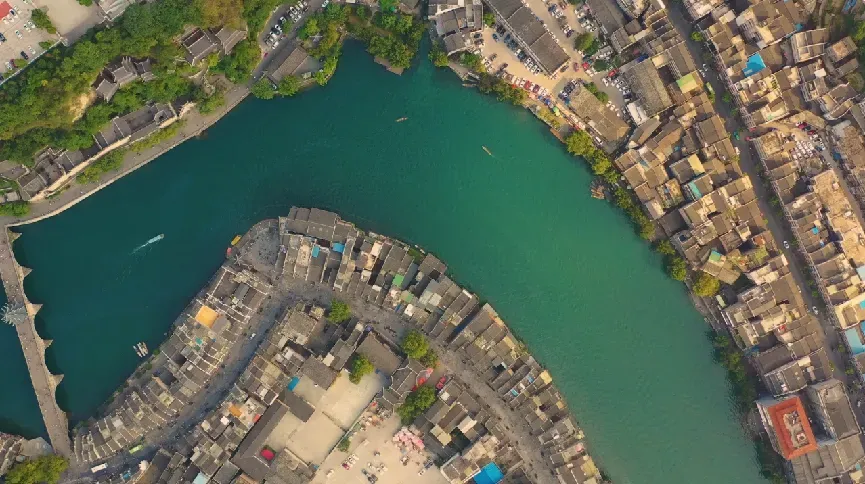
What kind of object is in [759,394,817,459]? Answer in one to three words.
building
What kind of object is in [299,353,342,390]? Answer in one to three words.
house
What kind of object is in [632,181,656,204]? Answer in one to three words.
house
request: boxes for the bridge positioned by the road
[0,215,75,462]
